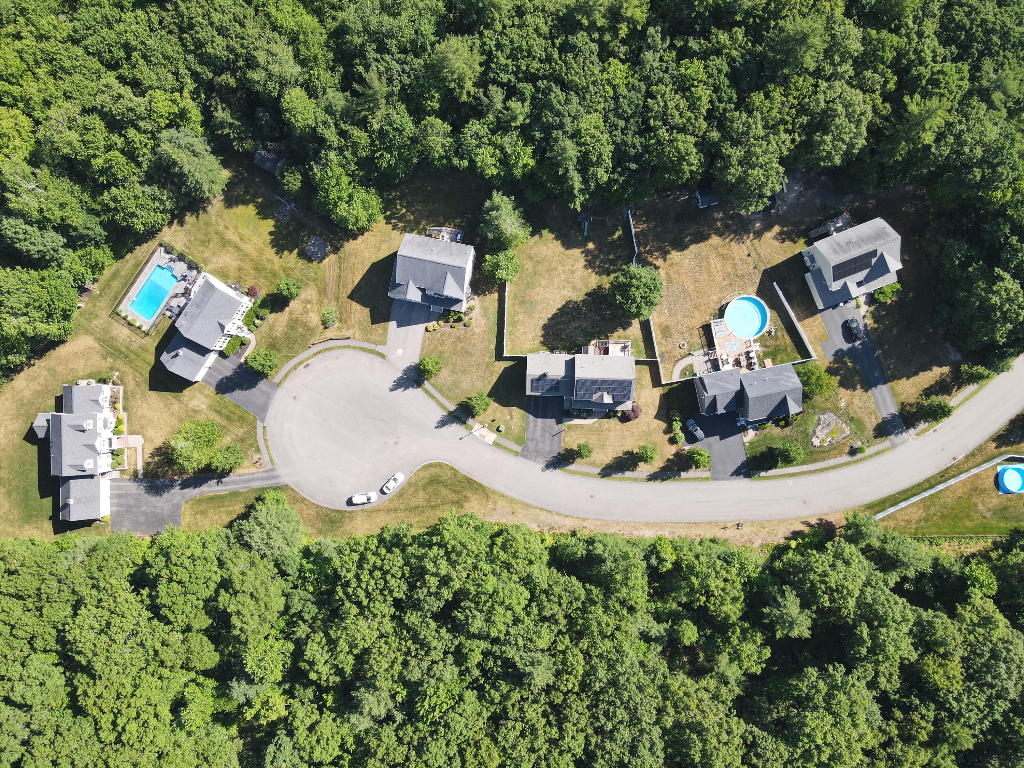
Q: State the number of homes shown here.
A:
6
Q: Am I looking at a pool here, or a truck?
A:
pool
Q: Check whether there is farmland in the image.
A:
No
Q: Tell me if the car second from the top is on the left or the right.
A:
right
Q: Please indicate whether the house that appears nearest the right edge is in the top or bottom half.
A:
top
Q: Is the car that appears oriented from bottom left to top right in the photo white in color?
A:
Yes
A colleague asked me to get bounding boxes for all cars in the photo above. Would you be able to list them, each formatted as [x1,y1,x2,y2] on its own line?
[383,471,405,494]
[847,317,866,341]
[352,491,378,504]
[685,417,705,443]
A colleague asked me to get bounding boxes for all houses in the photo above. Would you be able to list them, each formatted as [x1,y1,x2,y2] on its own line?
[695,364,803,426]
[802,217,903,309]
[525,353,636,412]
[32,386,124,521]
[159,271,253,381]
[388,233,472,314]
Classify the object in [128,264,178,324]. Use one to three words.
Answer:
swimming pool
